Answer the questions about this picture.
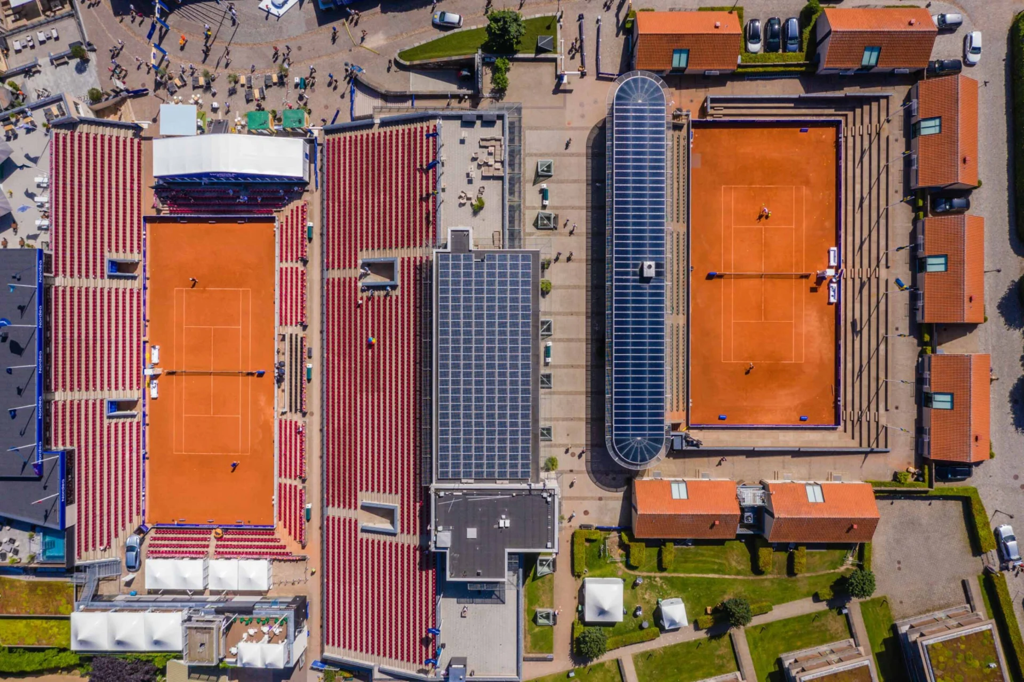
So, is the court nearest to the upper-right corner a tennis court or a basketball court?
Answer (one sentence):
Specifically, the court nearest to the upper-right corner is a tennis court.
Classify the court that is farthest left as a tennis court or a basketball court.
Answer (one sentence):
In the photo, the court that is farthest left shows up as a tennis court.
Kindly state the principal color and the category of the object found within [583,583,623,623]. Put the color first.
white tent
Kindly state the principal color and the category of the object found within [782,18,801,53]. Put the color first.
blue car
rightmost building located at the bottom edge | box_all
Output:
[899,602,1008,682]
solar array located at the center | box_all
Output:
[438,254,531,479]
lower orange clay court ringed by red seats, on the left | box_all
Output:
[143,219,276,528]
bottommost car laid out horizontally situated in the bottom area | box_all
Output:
[934,464,971,481]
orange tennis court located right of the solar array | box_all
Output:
[691,123,838,426]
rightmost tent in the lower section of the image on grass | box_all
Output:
[658,596,688,630]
